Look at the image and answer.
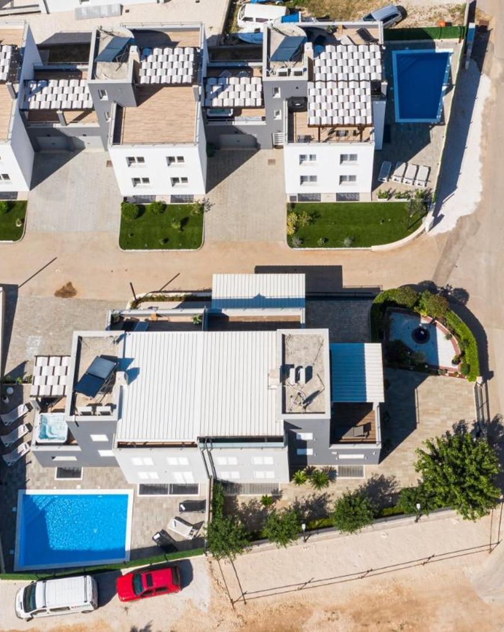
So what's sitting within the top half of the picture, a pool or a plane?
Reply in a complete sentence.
It is a pool that can be seen within the top half of the picture.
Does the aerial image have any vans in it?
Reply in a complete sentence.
Yes, I can see a van in this picture.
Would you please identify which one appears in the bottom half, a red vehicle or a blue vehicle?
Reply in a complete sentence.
The feature located in the bottom half is a red vehicle.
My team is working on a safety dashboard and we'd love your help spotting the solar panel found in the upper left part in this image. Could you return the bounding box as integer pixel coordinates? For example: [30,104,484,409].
[94,33,134,73]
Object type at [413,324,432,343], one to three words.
fountain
